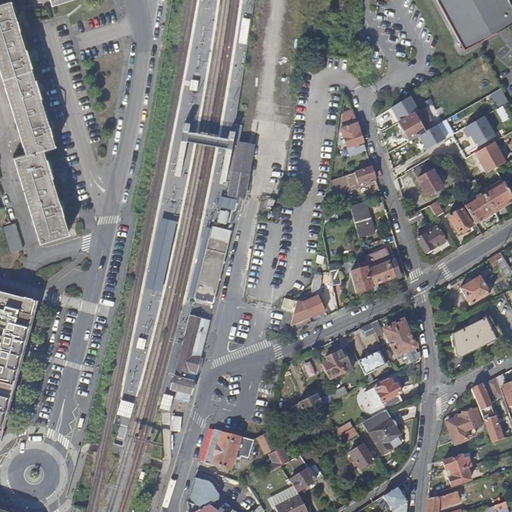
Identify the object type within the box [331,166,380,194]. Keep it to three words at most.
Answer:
house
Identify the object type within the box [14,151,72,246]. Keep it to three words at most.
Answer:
building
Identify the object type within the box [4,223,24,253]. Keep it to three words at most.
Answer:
building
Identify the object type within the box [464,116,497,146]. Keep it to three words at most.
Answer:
house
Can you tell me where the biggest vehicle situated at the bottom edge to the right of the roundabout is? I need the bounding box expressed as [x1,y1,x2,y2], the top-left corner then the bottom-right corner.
[164,478,176,510]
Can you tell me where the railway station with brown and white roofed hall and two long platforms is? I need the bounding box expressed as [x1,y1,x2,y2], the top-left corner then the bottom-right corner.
[121,0,254,404]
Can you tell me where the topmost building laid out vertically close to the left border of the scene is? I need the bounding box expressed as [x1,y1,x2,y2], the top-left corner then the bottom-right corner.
[0,2,58,156]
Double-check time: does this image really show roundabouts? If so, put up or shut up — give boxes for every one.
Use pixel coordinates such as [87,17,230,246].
[0,434,76,512]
